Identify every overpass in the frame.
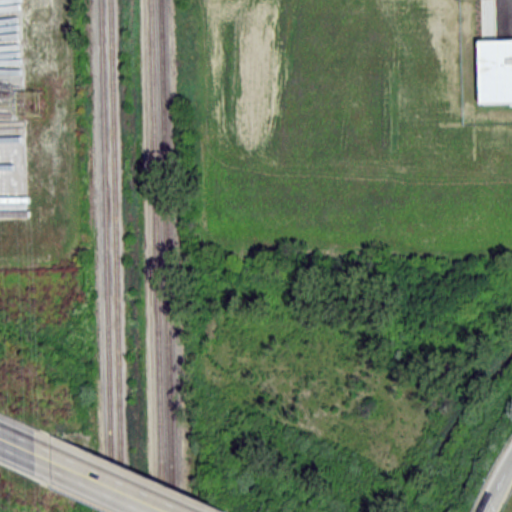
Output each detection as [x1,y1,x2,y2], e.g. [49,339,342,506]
[34,427,225,512]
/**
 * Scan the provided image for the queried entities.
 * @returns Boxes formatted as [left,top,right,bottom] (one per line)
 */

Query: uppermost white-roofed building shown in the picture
[477,41,512,110]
